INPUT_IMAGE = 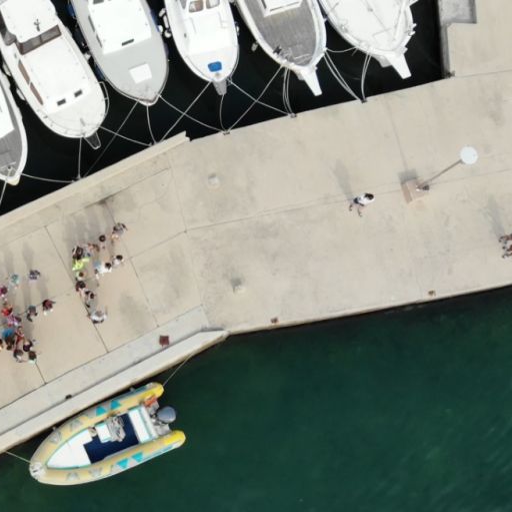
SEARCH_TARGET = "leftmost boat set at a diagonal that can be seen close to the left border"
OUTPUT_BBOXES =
[0,0,105,145]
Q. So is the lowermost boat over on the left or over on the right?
left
